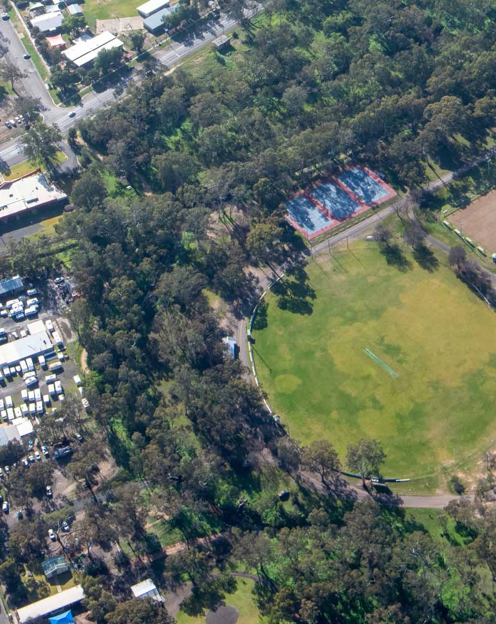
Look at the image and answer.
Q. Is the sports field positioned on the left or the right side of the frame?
right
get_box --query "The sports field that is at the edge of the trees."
[250,242,496,479]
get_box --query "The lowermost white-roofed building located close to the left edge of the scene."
[17,586,86,624]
